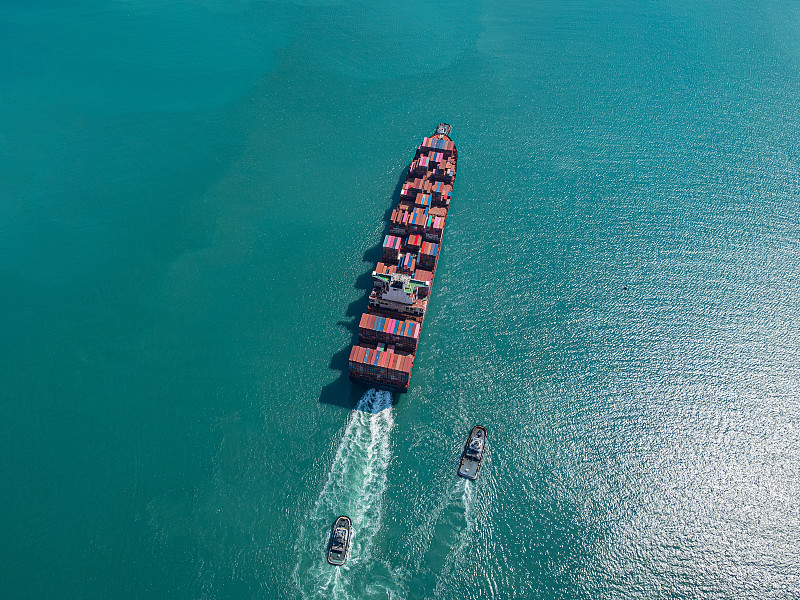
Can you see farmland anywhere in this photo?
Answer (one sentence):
No, the picture contains no farmland.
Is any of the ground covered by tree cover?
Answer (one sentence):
No, the scene doesn't show any tree cover.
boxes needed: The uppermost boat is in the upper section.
[435,123,451,137]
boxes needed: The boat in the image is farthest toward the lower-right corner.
[459,425,488,479]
